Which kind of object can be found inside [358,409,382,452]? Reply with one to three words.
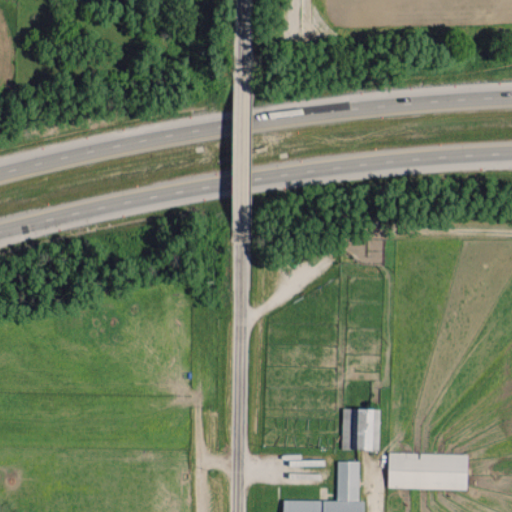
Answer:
barn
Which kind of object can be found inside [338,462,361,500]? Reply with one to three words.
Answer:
barn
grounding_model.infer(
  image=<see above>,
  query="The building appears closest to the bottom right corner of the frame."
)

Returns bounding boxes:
[388,454,469,492]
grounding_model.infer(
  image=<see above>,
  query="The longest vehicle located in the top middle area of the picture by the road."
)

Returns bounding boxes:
[256,109,305,121]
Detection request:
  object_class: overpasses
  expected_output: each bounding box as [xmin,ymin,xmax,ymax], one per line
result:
[232,72,253,240]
